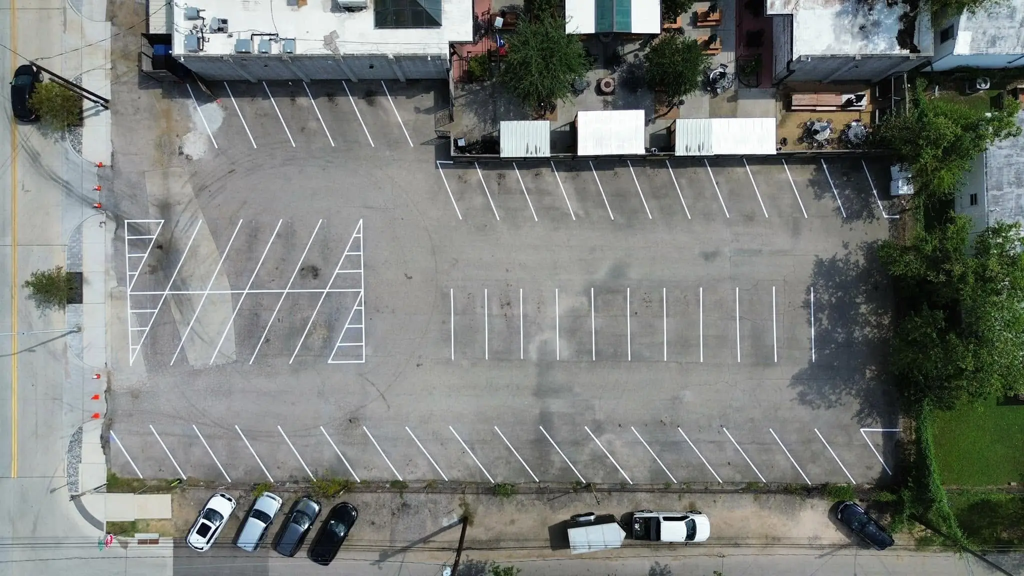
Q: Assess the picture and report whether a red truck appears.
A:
No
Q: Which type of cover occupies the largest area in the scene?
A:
paved ground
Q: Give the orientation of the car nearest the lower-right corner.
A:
at an angle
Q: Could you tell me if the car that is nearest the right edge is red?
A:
No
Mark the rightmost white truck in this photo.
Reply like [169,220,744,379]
[630,508,710,544]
